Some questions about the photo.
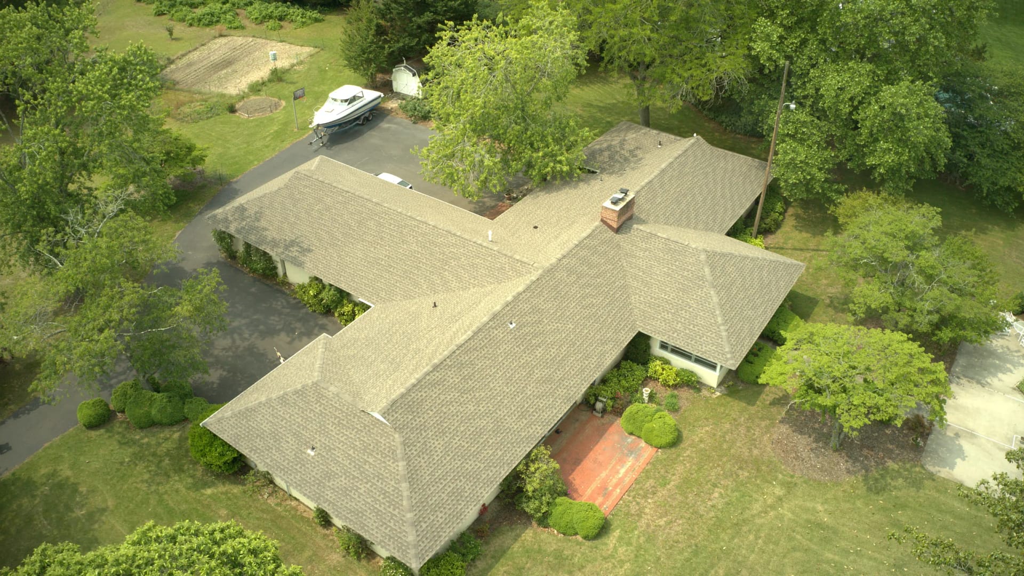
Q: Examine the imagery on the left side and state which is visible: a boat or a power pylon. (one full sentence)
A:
It is a boat that can be seen on the left side.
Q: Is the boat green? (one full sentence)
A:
No, the boat is white.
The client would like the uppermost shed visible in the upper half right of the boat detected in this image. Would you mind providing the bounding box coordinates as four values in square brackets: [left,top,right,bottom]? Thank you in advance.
[391,63,427,101]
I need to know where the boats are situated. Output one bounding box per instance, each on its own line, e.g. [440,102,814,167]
[309,86,383,130]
